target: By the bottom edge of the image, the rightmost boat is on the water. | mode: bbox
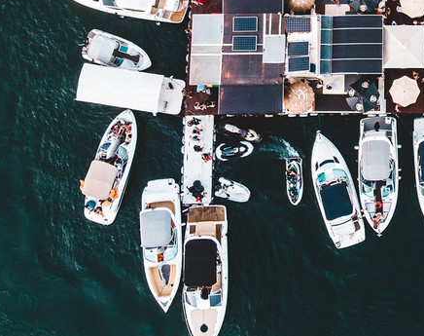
[182,203,231,336]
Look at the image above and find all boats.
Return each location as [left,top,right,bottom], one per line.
[313,129,367,246]
[83,109,140,223]
[215,179,249,202]
[354,116,402,234]
[76,32,152,71]
[182,203,231,336]
[76,63,188,113]
[219,121,262,143]
[76,0,188,25]
[215,140,255,159]
[285,156,305,206]
[141,177,187,312]
[415,116,424,210]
